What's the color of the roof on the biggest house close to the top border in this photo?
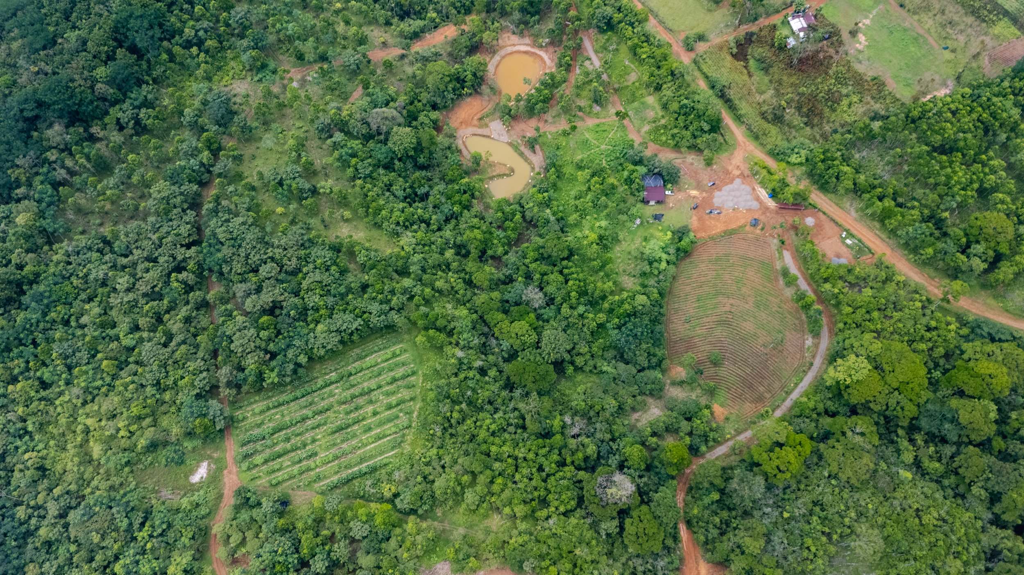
white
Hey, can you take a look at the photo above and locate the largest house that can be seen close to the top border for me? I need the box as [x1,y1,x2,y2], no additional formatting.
[787,12,816,37]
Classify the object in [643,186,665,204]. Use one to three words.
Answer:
house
